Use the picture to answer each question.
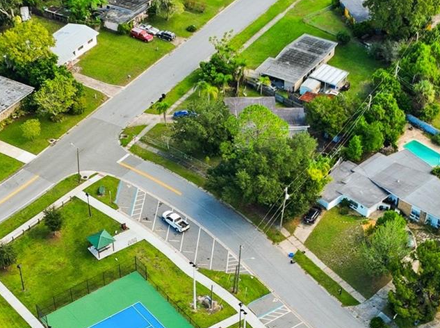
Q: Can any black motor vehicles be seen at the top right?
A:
No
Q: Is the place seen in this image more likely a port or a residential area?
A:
residential area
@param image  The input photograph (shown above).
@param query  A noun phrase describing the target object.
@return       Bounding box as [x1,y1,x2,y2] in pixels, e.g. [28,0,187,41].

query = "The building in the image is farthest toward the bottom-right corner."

[322,150,440,231]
